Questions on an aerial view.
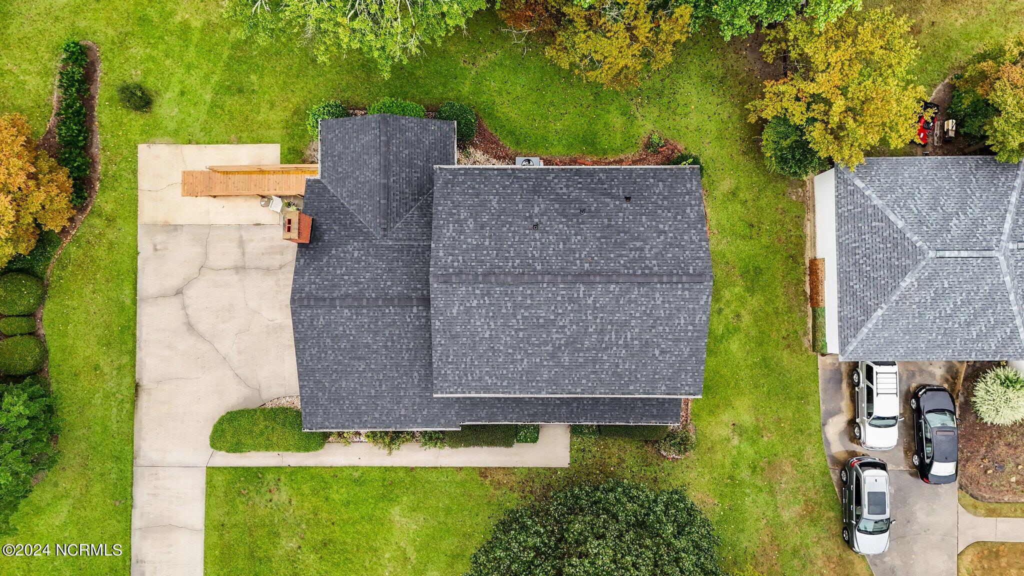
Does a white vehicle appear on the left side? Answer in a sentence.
No, looking on the left side, there is no white vehicle.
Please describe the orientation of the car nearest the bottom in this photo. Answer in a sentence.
The car nearest the bottom has been laid out vertically relative to the frame.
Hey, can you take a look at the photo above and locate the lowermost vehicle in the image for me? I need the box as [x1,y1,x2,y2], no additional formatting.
[841,455,895,555]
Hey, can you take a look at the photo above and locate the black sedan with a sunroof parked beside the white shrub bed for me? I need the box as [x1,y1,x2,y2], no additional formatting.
[912,385,966,485]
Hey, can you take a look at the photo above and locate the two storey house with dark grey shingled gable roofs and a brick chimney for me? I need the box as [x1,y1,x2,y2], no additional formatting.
[283,114,712,433]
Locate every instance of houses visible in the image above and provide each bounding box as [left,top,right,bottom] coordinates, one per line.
[283,114,712,433]
[815,155,1024,361]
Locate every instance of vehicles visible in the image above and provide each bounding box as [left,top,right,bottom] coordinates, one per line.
[912,385,966,485]
[854,360,907,450]
[841,455,895,555]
